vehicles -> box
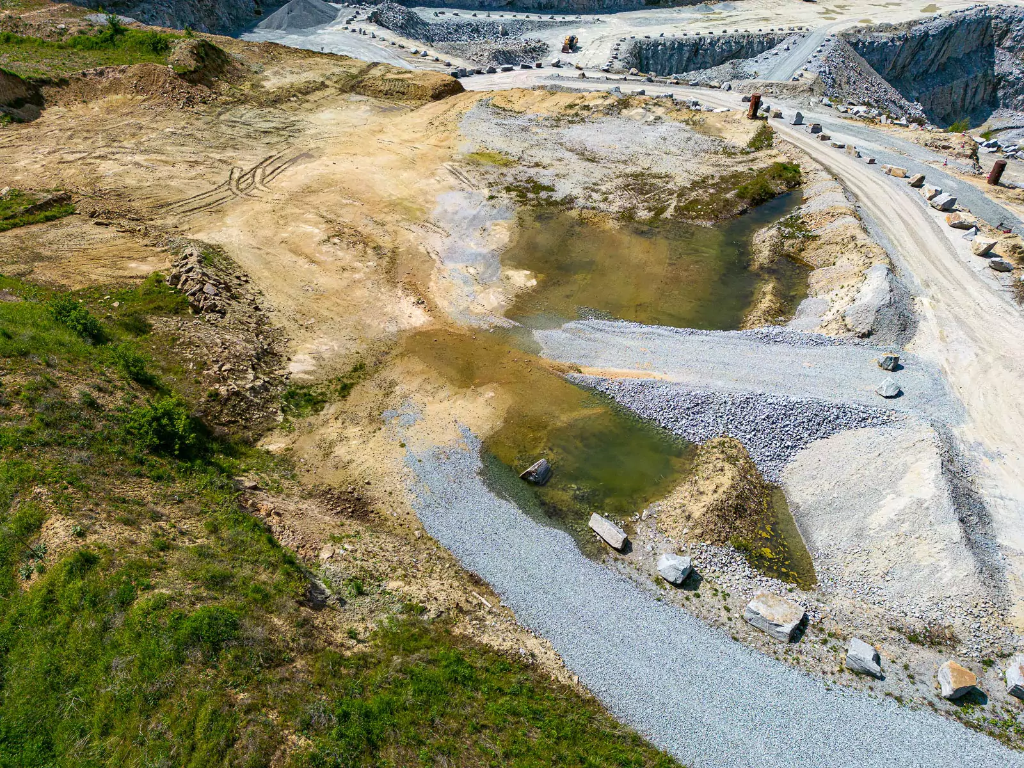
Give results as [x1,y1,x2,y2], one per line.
[558,34,584,55]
